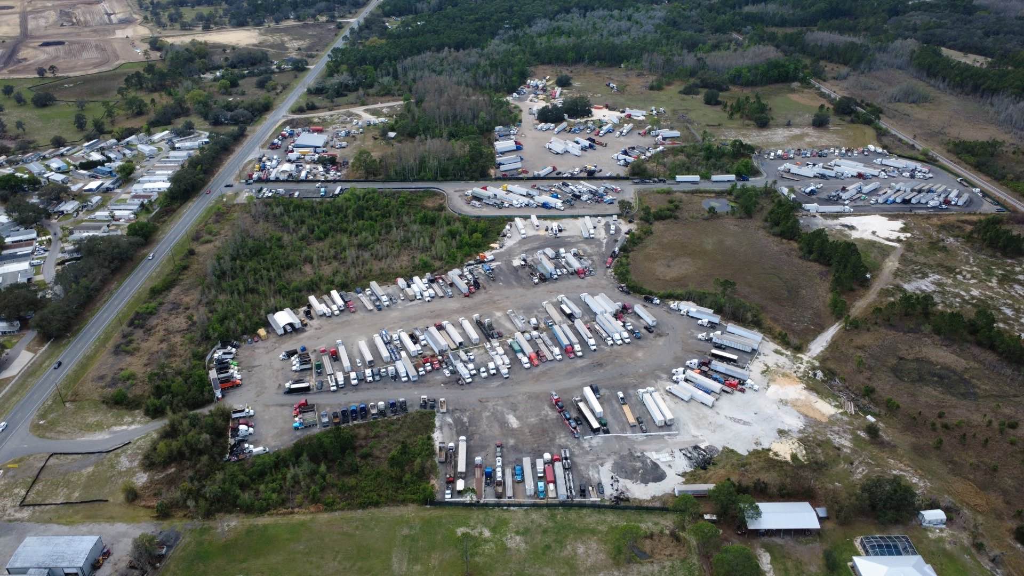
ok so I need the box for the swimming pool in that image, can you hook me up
[856,540,913,556]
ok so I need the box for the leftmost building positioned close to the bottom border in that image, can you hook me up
[4,535,105,576]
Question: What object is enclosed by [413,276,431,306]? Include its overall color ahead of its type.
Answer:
white vehicle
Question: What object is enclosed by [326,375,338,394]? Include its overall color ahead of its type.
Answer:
white vehicle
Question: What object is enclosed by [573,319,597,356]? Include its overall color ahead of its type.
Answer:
white truck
